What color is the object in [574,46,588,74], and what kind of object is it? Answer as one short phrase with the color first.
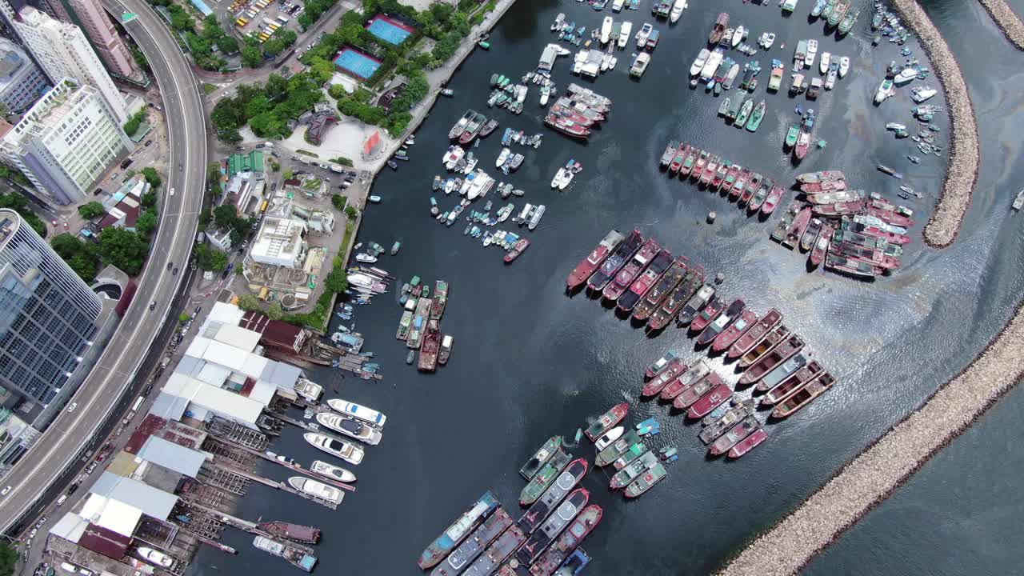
white boat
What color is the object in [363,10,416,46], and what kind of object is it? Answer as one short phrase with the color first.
blue basketball court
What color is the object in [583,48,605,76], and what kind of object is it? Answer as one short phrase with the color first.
white boat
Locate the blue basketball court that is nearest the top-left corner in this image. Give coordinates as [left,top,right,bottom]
[330,41,386,81]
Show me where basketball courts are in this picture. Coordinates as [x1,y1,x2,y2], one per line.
[330,41,386,81]
[363,10,416,46]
